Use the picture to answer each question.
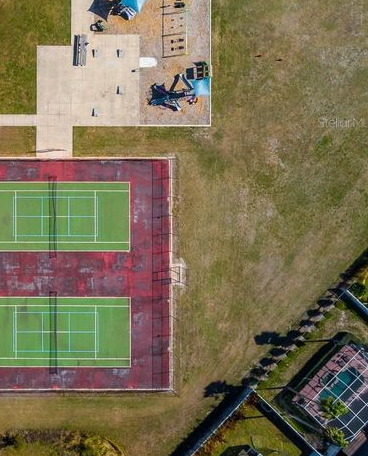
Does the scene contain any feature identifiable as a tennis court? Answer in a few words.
Yes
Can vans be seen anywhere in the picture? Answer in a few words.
No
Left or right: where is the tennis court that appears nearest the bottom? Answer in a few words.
left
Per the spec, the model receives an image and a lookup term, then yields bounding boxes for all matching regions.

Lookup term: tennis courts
[0,178,131,256]
[0,293,131,372]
